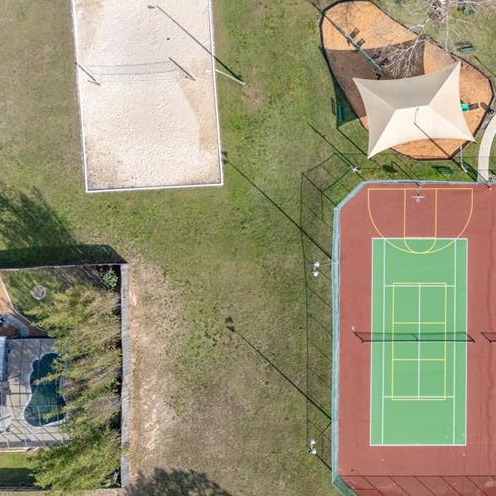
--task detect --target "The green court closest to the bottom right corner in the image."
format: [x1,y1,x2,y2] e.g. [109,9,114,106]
[371,239,467,446]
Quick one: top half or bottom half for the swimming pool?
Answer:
bottom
